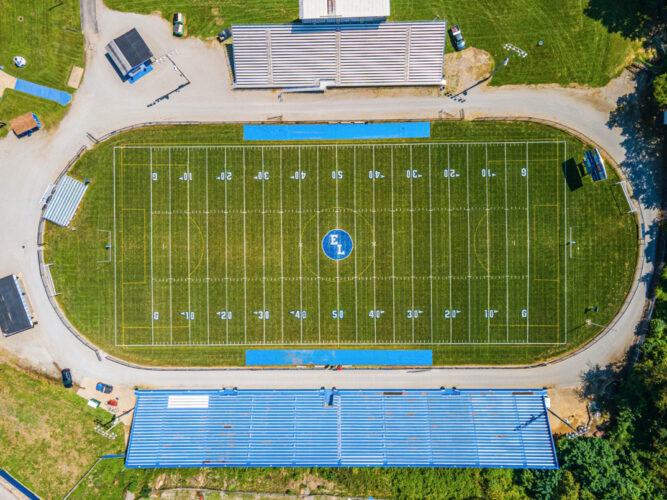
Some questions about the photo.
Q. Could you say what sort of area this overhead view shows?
sports ground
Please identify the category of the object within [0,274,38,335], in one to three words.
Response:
building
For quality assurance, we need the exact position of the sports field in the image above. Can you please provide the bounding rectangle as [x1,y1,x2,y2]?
[41,122,641,367]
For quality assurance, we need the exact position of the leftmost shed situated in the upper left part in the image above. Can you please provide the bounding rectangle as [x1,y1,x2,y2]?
[10,112,44,137]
